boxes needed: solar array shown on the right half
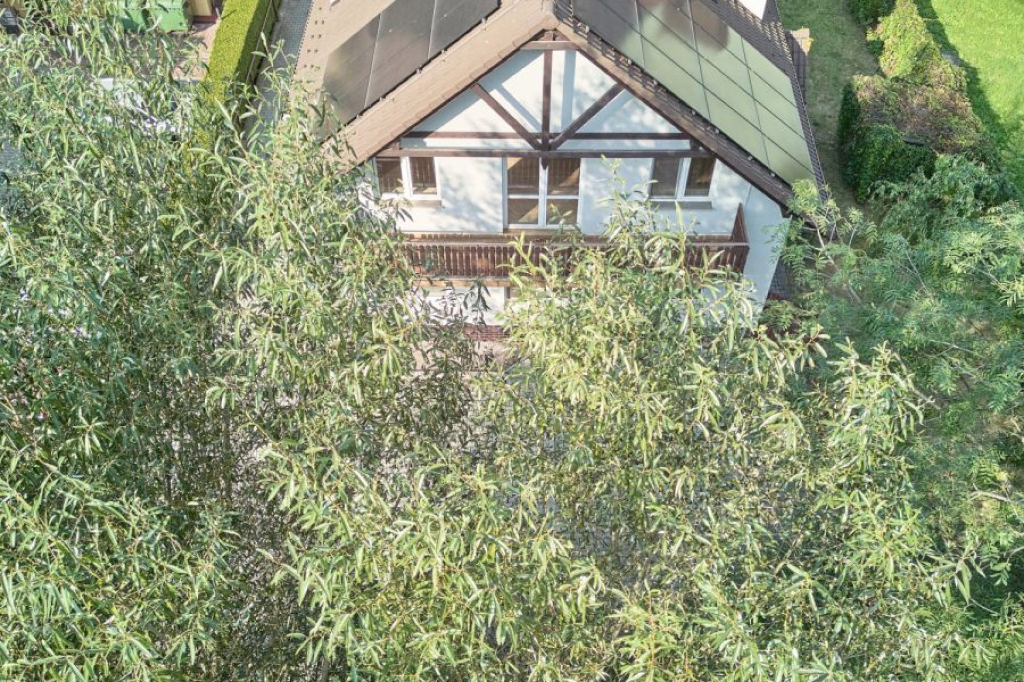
[577,0,829,205]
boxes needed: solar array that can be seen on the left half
[306,0,494,143]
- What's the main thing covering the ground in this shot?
trees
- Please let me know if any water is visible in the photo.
No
